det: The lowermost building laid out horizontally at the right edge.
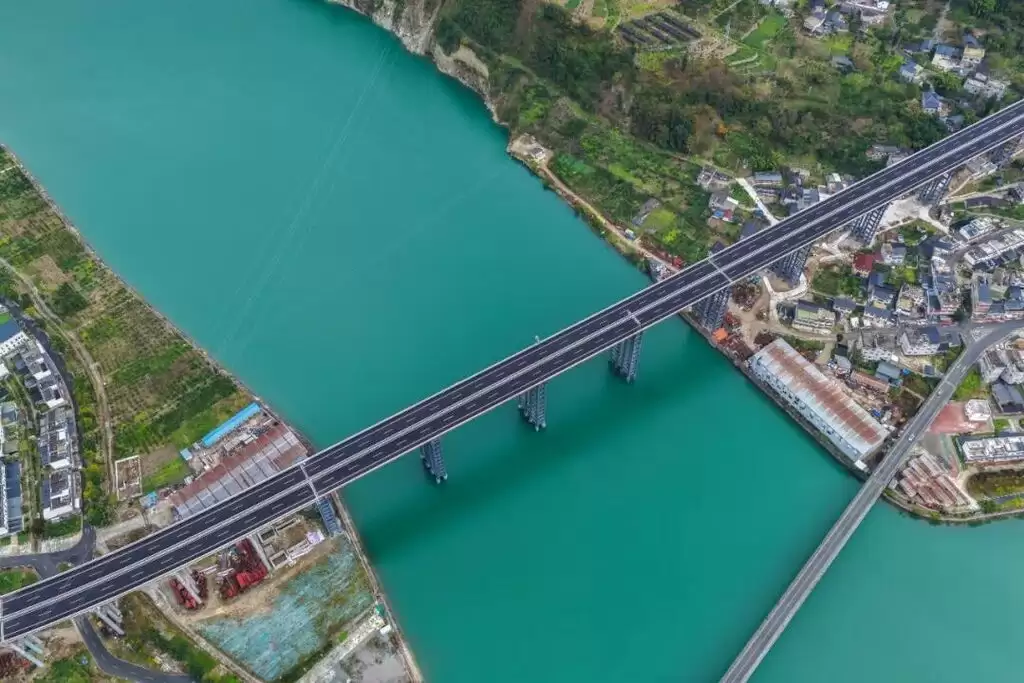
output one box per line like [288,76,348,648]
[957,438,1024,473]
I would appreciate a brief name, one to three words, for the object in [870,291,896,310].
house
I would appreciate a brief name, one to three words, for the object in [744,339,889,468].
building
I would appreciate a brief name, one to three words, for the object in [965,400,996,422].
building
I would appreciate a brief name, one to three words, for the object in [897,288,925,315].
house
